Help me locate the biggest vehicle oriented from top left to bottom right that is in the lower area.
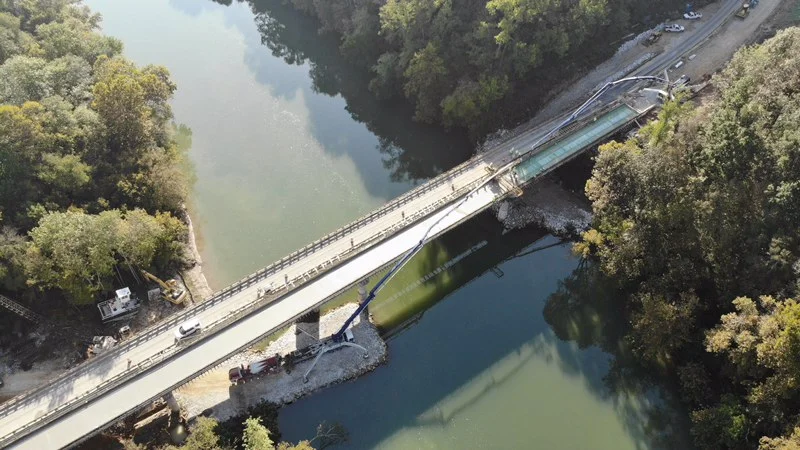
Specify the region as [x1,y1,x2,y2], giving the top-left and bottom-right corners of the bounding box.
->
[141,273,191,306]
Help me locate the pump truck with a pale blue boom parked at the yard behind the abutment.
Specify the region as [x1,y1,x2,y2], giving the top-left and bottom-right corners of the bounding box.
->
[525,69,695,169]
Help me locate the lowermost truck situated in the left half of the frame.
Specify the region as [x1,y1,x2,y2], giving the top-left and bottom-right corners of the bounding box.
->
[228,349,285,381]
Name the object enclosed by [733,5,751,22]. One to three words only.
work vehicle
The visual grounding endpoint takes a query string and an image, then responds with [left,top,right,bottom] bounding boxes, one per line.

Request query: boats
[98,287,146,321]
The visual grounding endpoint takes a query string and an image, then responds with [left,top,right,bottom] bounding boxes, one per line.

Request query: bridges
[0,128,552,450]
